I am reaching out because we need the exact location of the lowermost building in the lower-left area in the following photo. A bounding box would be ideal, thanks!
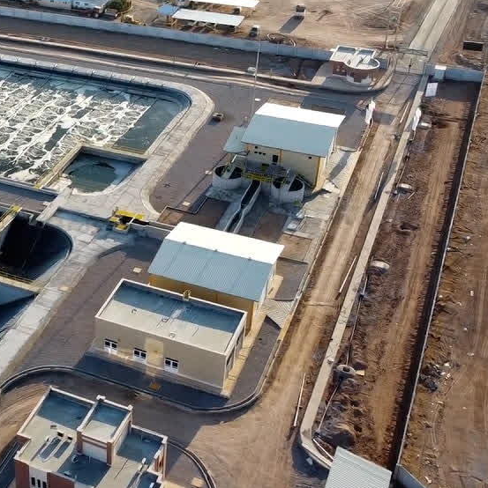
[14,384,172,488]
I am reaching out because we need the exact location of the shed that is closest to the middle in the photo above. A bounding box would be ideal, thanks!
[147,224,281,336]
